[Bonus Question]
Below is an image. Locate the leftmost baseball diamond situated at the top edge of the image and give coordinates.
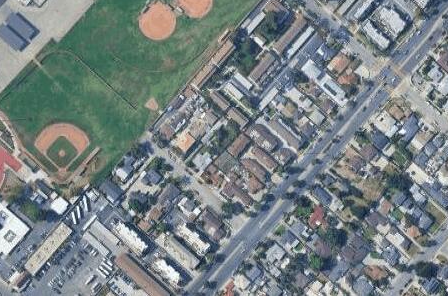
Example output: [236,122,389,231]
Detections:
[138,2,177,42]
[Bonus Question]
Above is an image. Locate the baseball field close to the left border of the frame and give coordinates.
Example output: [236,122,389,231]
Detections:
[18,123,101,186]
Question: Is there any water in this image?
No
